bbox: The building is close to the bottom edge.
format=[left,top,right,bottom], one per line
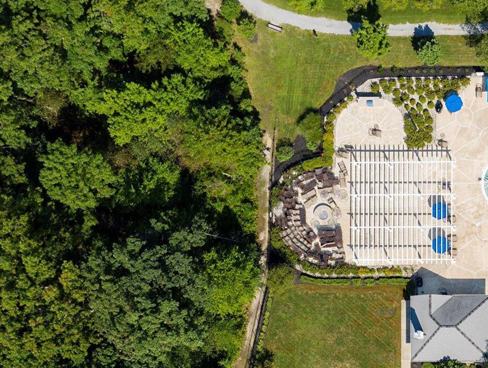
[409,292,488,363]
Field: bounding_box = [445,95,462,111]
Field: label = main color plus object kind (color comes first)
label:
blue umbrella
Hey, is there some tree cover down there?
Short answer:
Yes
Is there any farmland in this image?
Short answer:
No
